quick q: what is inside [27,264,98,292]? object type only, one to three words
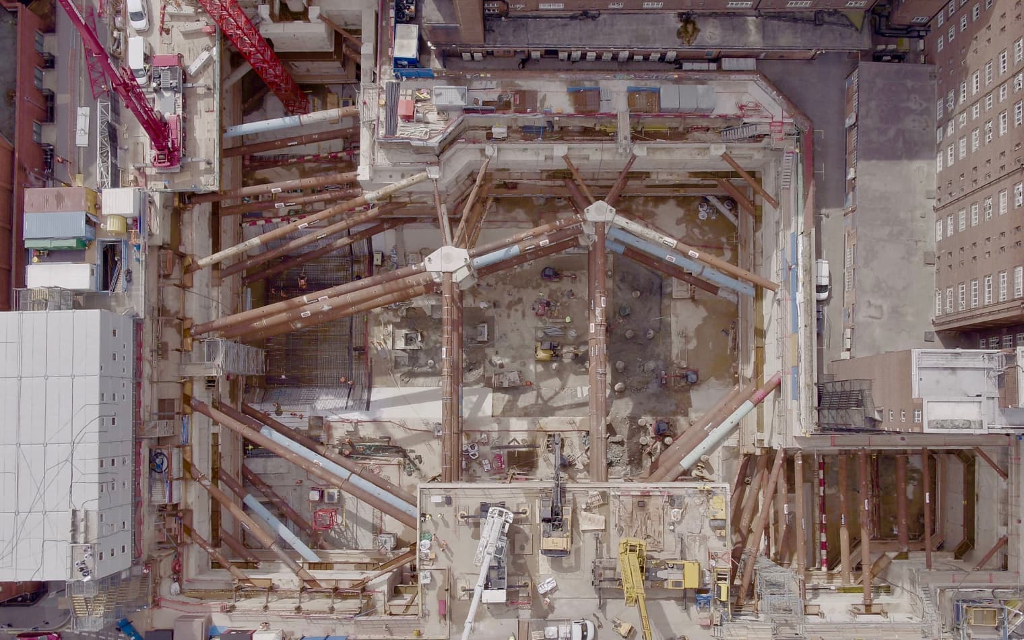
building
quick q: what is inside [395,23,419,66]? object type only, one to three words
building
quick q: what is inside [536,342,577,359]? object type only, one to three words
work vehicle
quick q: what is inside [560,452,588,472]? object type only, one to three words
work vehicle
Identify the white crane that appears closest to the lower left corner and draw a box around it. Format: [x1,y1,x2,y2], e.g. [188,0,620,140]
[460,505,527,640]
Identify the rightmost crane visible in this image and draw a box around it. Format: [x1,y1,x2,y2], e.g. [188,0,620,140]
[596,537,705,640]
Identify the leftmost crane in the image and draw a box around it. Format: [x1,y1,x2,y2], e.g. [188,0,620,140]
[53,0,204,174]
